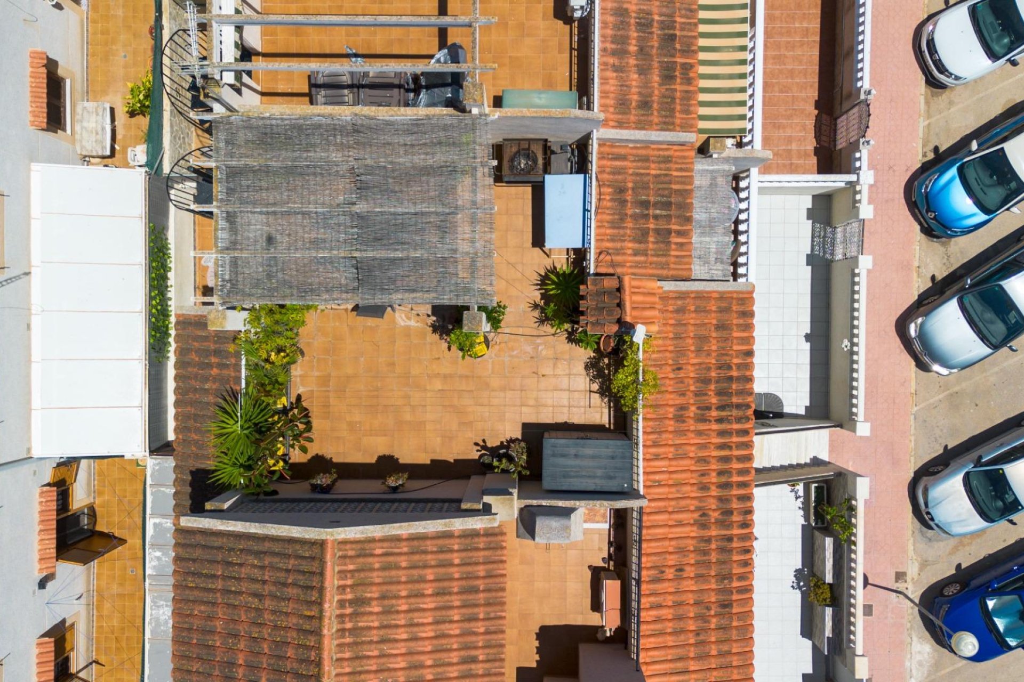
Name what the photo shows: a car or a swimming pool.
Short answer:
car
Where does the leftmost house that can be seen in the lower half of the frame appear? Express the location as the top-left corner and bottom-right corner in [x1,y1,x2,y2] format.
[0,459,125,682]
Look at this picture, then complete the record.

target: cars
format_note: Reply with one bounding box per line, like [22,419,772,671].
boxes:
[915,432,1024,545]
[915,0,1024,88]
[909,126,1024,243]
[900,251,1024,381]
[927,555,1024,663]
